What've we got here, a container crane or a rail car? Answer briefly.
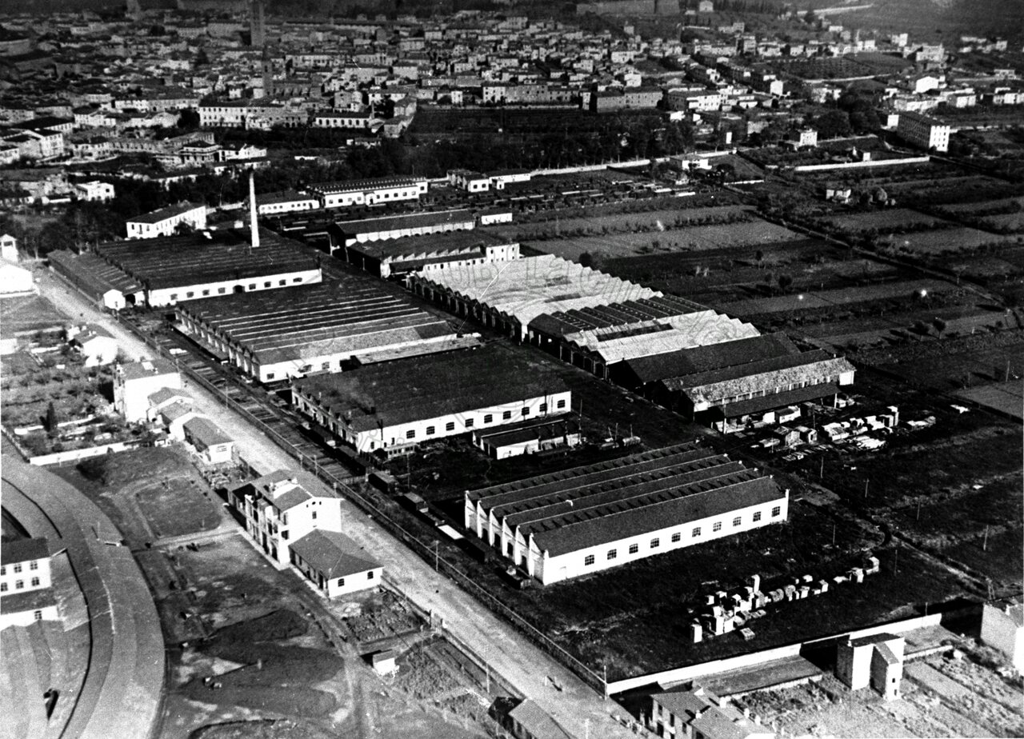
rail car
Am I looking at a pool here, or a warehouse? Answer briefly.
warehouse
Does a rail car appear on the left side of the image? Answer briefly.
Yes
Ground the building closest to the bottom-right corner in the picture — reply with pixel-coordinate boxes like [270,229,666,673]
[979,603,1024,668]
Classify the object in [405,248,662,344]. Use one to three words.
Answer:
building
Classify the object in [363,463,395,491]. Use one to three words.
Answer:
rail car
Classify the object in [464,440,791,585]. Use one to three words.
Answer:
warehouse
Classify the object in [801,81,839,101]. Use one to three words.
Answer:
house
